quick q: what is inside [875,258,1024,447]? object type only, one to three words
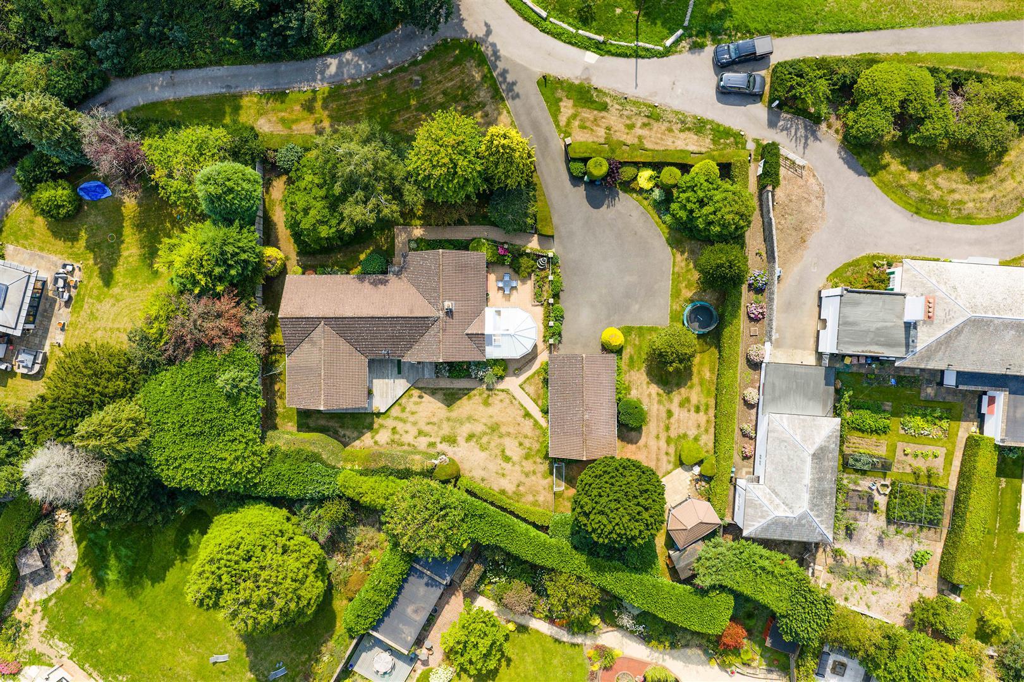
house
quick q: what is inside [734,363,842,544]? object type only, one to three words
shed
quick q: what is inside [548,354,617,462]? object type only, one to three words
building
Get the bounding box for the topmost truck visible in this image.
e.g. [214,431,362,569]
[712,35,775,68]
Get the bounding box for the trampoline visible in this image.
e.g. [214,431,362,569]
[678,299,722,334]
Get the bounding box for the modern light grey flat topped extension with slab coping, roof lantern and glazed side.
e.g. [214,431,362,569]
[0,260,50,358]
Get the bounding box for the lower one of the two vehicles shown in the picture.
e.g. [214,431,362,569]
[715,70,764,97]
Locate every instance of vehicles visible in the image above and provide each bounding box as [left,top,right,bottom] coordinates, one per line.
[715,70,764,97]
[712,35,775,68]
